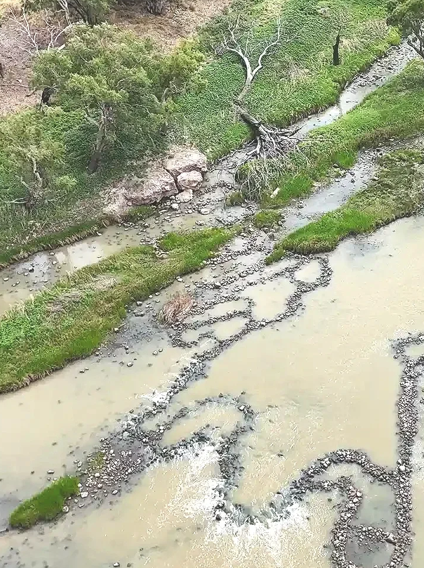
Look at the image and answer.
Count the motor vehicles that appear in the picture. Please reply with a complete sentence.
There are no motor vehicles in this view.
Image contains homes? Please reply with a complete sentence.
No, there appears to be no home in this shot.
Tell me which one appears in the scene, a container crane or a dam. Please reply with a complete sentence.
Visible in the photo is a dam.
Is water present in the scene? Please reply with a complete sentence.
Yes, some water is visible.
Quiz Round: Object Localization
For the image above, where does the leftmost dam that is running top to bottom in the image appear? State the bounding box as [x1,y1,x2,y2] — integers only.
[213,424,248,498]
